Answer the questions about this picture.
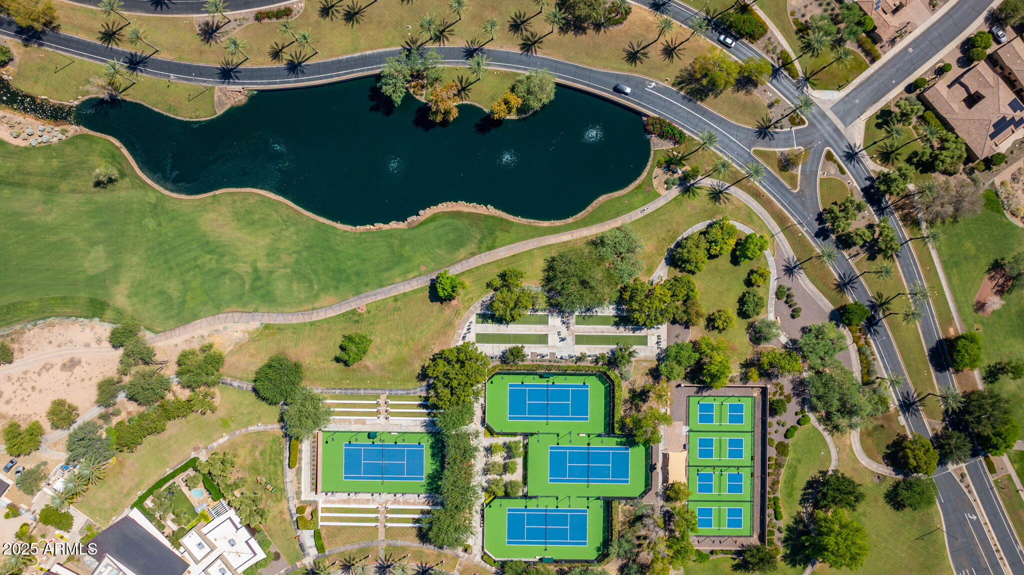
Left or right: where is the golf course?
left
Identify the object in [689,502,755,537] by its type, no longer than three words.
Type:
sports court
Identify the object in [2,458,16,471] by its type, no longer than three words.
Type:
vehicle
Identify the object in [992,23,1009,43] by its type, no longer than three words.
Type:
vehicle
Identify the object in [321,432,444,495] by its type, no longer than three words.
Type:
tennis court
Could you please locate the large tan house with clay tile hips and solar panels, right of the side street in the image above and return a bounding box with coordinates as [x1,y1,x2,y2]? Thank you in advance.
[926,56,1024,158]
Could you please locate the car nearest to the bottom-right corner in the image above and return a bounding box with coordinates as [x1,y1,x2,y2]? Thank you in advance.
[867,311,880,327]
